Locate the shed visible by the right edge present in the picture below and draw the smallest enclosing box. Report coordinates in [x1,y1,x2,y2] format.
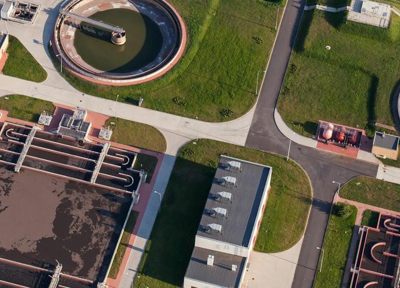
[371,132,399,159]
